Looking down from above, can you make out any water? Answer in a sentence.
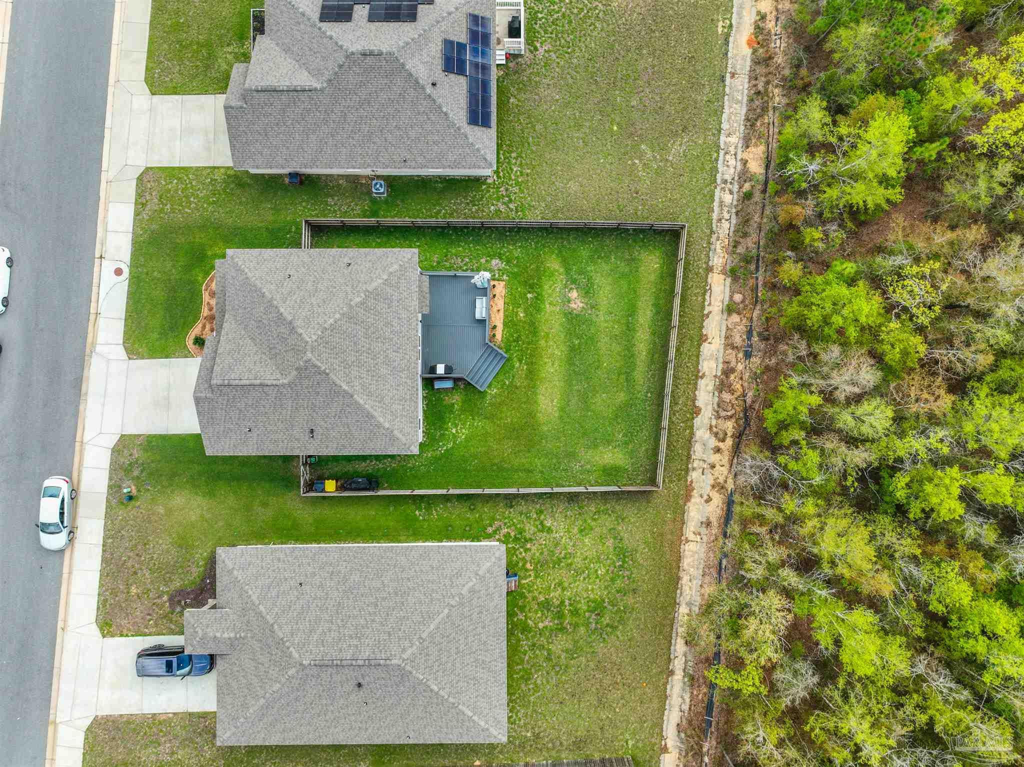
No, there is no water in the image.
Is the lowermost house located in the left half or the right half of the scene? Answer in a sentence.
The lowermost house sits on the left side.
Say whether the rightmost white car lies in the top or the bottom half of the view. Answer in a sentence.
The rightmost white car is in the bottom half of the image.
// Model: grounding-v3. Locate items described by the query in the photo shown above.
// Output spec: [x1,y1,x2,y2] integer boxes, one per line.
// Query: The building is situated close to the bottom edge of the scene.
[184,542,506,745]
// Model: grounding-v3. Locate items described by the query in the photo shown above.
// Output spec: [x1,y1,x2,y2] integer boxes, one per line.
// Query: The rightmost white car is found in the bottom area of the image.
[35,473,80,549]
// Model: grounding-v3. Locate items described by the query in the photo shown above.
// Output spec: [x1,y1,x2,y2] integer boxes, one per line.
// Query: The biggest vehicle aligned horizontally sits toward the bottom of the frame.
[134,640,216,681]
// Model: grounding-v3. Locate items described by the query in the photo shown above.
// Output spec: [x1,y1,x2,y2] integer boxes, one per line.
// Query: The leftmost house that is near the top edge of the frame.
[222,0,496,176]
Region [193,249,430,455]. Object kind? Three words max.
house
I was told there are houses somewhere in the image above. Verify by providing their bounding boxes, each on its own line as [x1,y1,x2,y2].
[222,0,496,176]
[184,542,506,745]
[193,249,430,455]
